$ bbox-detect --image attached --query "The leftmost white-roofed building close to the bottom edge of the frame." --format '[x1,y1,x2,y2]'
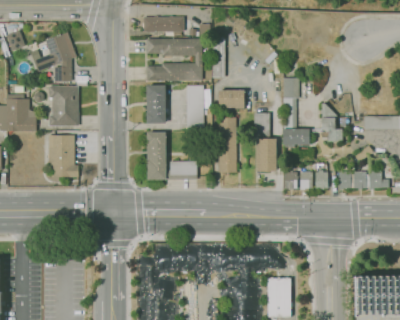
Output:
[268,277,292,318]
